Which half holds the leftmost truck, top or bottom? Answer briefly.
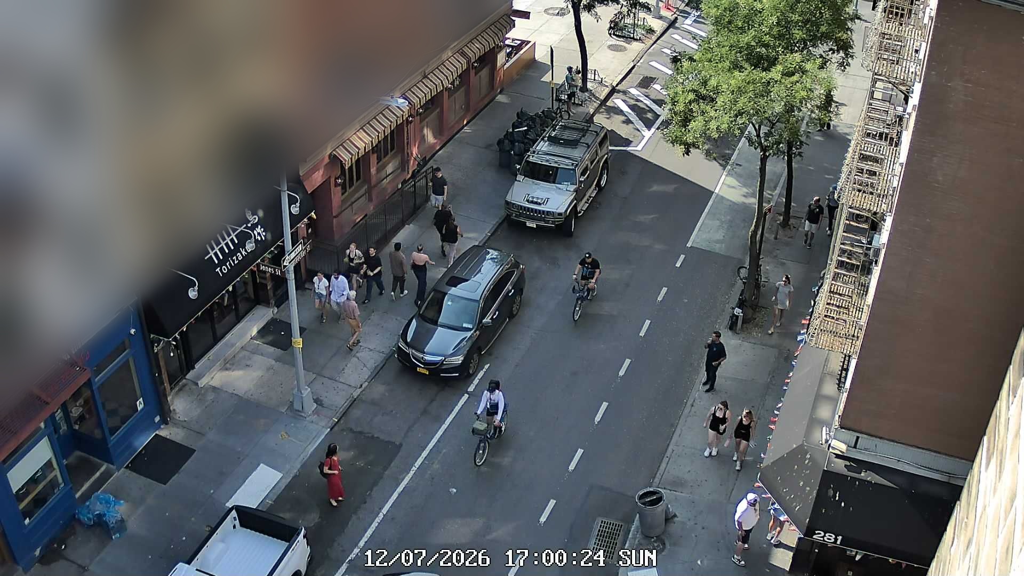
bottom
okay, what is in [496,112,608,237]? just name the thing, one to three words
car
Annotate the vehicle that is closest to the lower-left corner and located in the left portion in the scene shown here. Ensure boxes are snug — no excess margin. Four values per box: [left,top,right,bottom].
[161,506,318,576]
